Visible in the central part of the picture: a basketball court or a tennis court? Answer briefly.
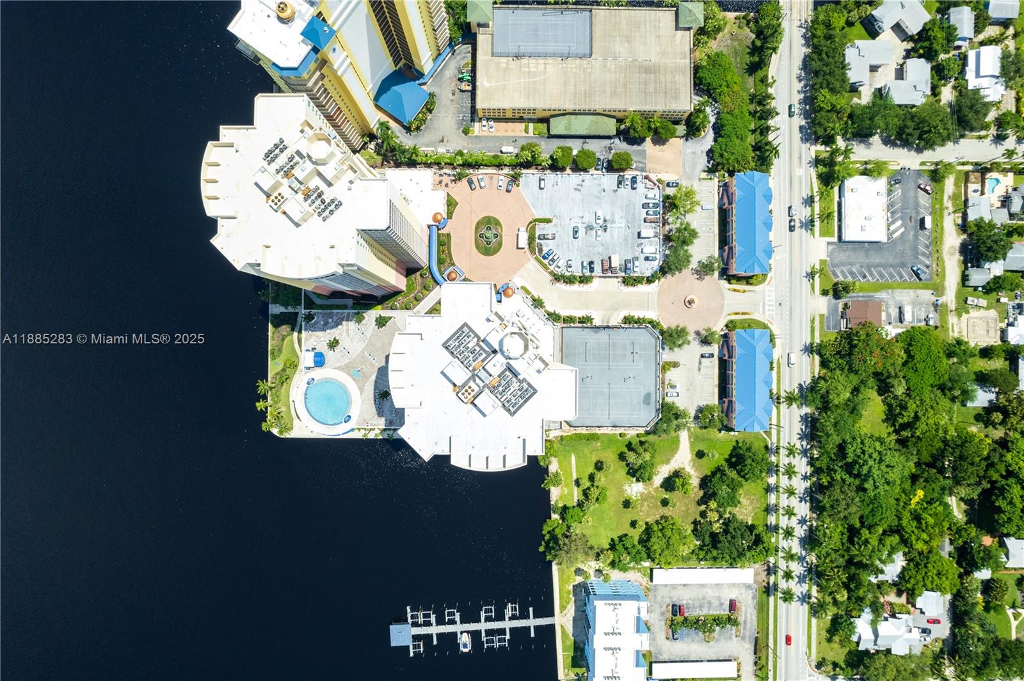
tennis court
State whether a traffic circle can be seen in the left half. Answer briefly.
No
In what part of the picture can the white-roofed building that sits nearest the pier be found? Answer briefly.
bottom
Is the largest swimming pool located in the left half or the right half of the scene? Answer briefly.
left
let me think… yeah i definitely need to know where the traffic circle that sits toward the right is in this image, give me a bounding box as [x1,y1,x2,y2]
[656,266,727,337]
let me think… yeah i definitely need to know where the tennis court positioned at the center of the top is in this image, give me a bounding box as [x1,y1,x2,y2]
[493,6,592,57]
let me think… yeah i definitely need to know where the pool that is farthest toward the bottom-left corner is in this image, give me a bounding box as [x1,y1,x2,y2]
[293,368,361,435]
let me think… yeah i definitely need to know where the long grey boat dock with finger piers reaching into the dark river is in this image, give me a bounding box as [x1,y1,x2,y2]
[406,606,556,658]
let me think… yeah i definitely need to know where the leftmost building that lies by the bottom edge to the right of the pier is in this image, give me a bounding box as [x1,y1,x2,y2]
[580,579,649,681]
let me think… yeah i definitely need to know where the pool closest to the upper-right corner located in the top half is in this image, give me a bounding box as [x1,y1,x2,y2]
[988,177,1002,195]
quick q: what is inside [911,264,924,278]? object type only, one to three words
vehicle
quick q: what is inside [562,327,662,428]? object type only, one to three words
tennis court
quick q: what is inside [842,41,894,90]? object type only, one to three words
house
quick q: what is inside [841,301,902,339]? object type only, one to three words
building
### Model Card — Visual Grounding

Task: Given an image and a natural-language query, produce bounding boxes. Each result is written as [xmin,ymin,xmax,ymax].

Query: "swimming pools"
[988,177,1002,195]
[293,368,361,435]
